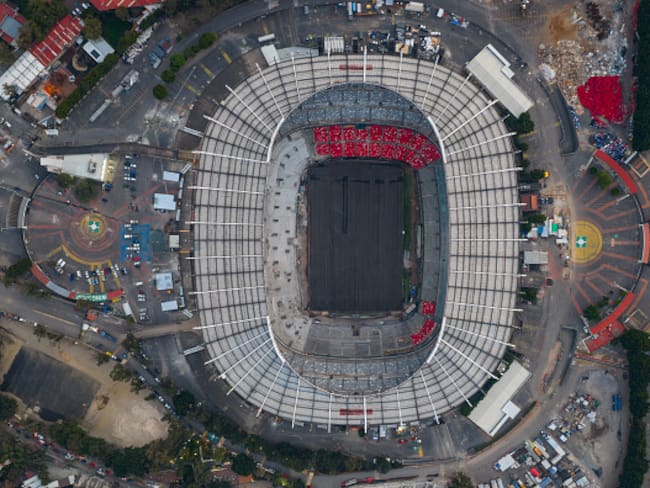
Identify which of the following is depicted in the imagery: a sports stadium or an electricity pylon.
sports stadium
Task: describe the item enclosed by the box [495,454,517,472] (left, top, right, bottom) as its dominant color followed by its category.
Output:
white vehicle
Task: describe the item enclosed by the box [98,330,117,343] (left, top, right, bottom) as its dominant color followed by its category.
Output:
blue vehicle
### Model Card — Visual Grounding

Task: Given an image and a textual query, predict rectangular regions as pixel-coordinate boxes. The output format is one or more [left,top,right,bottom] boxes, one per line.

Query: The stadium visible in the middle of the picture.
[185,46,527,433]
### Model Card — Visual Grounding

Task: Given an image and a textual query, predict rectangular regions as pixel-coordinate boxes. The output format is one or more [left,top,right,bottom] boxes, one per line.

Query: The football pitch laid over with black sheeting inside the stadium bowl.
[307,160,410,311]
